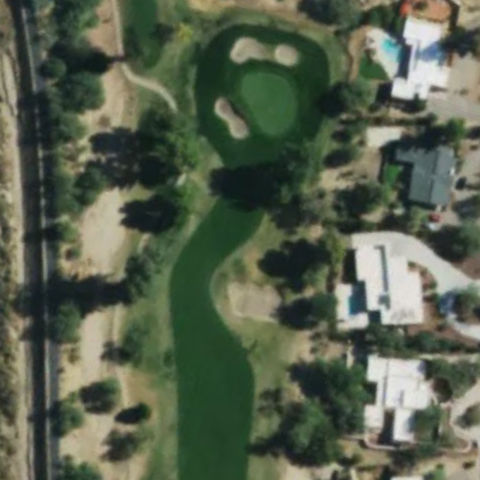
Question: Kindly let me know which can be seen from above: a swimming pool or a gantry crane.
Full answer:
It is a swimming pool that can be seen here.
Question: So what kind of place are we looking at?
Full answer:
The picture captures a golf course.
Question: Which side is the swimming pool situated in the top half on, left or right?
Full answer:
The swimming pool situated in the top half appears in the right half of the scene.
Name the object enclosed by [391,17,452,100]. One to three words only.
house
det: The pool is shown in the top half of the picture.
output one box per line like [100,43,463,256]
[376,35,404,65]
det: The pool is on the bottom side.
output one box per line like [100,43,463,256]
[348,282,368,316]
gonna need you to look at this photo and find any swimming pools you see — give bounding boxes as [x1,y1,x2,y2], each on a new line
[348,282,368,316]
[376,35,404,65]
